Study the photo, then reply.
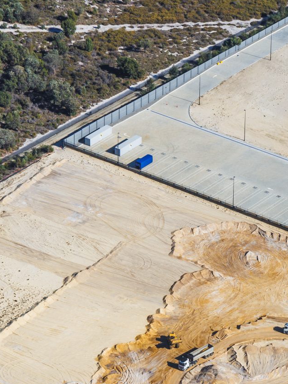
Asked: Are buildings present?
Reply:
No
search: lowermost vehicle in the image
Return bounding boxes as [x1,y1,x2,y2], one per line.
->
[178,345,216,370]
